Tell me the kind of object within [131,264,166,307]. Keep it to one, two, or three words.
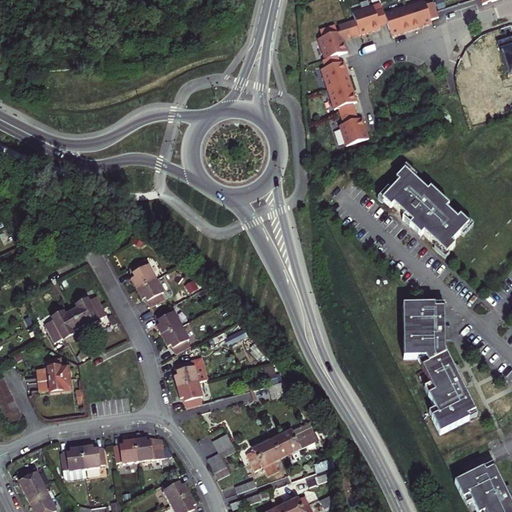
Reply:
house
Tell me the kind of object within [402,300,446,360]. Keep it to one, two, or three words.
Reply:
building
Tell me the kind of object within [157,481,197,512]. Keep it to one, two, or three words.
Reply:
house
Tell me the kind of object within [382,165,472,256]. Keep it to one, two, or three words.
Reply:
building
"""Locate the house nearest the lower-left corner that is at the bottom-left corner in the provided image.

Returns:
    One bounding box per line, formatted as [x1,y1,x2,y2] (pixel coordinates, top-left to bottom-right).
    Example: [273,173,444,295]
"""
[17,471,60,512]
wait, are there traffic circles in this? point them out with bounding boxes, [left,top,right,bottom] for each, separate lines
[181,100,288,206]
